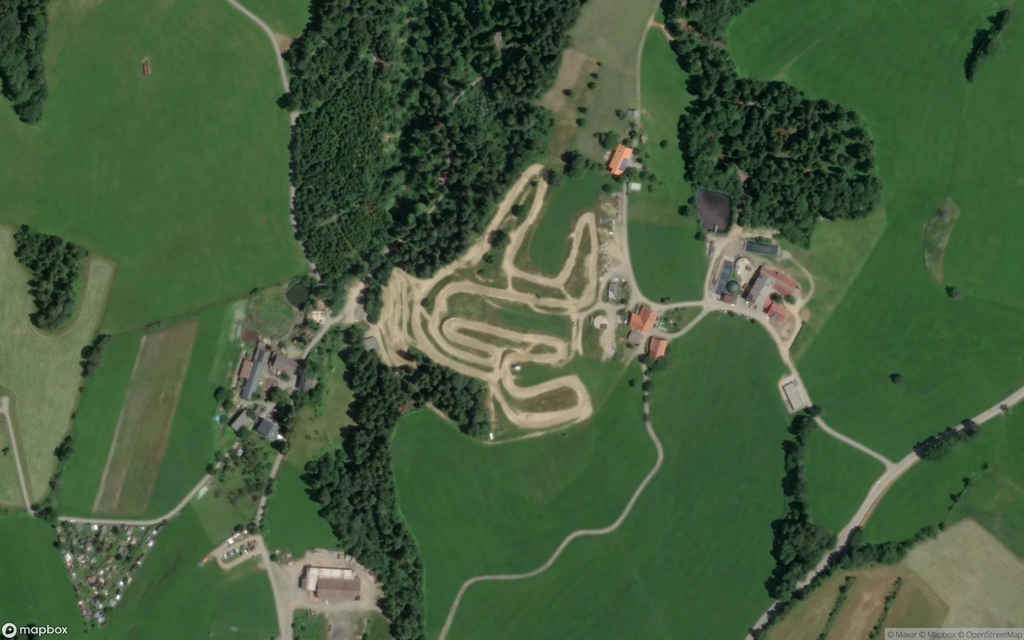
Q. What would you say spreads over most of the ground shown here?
grass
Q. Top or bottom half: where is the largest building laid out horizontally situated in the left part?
bottom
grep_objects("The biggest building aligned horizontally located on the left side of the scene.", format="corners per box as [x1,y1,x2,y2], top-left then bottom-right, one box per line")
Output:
[317,579,360,600]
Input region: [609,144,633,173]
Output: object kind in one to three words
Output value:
house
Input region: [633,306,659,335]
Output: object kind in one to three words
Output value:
house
